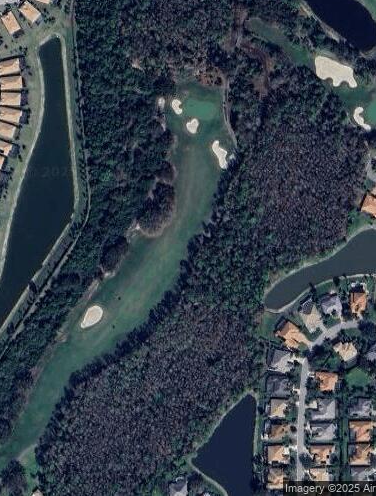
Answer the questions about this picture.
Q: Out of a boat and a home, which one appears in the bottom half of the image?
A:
home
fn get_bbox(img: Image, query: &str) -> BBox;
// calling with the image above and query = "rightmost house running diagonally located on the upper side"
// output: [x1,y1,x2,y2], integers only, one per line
[20,0,47,25]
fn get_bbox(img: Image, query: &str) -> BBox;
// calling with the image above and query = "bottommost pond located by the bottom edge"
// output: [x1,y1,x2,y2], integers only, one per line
[192,395,257,496]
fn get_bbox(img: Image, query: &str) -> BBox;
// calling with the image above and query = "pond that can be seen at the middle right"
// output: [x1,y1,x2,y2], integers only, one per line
[265,228,376,310]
